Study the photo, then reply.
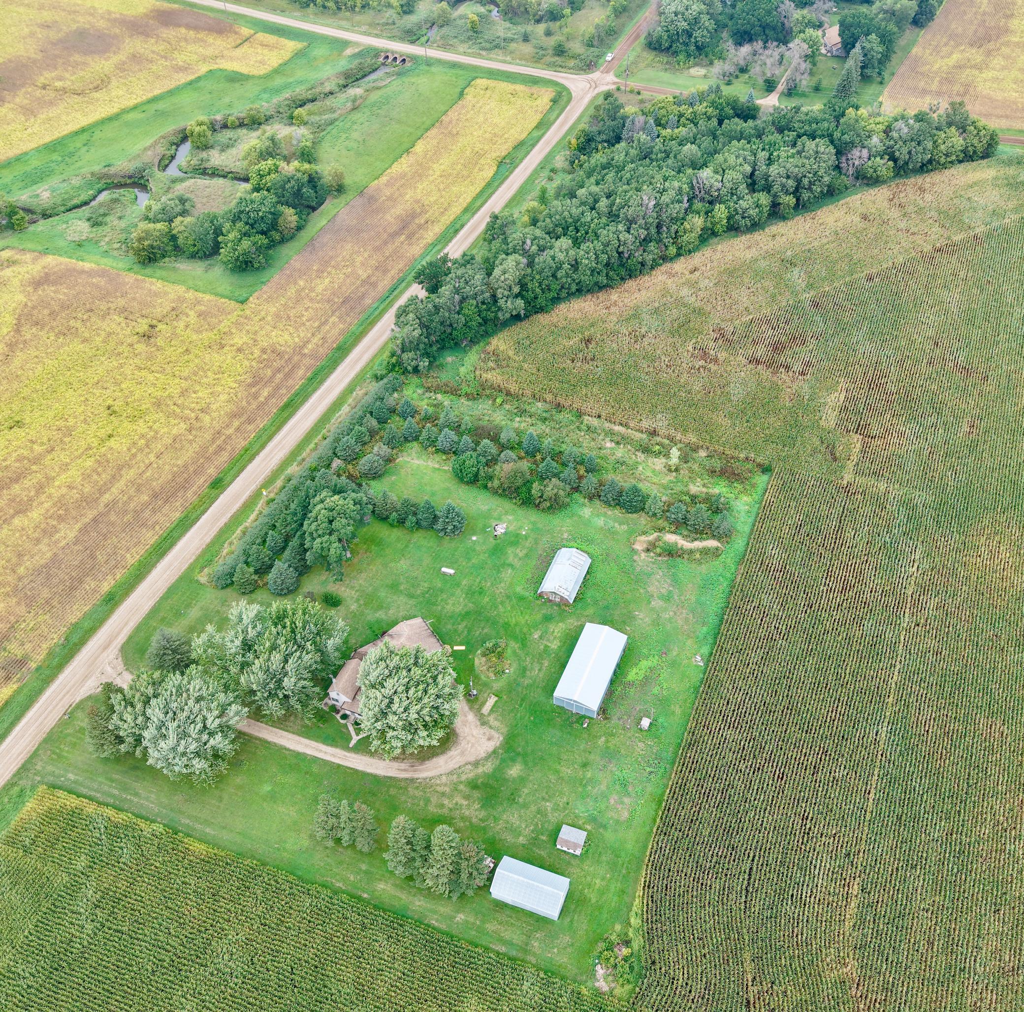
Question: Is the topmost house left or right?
right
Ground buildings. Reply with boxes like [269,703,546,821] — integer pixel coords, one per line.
[536,545,589,604]
[553,623,629,718]
[556,824,588,856]
[327,617,444,728]
[490,855,572,921]
[824,25,849,58]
